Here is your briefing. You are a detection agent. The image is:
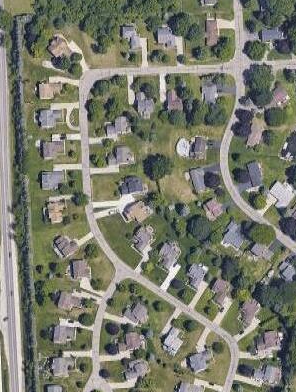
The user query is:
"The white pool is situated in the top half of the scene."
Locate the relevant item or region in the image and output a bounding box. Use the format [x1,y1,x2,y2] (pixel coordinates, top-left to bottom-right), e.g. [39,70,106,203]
[177,137,190,156]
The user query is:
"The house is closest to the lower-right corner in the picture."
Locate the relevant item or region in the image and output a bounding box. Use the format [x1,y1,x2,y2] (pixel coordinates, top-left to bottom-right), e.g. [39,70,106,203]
[253,363,280,381]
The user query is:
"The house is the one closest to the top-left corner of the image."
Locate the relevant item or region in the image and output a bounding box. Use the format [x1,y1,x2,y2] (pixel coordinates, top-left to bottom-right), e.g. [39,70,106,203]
[47,35,71,57]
